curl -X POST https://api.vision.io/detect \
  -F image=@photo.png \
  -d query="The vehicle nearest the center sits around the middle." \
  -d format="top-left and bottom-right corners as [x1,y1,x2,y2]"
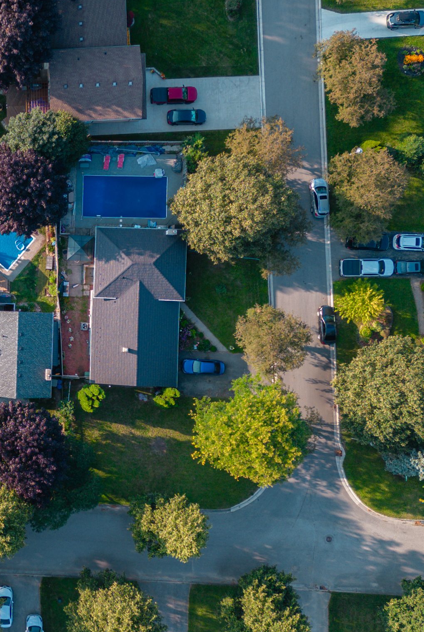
[181,357,225,377]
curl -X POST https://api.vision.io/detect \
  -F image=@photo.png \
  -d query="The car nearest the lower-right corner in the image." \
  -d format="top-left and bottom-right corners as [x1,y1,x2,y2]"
[315,305,338,345]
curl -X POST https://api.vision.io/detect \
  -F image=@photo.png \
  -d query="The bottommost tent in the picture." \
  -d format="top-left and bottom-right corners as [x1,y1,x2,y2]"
[66,235,93,261]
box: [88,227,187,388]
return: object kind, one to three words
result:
house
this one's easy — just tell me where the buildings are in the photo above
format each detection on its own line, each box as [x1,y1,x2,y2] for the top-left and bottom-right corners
[0,306,55,400]
[38,0,144,124]
[88,227,187,388]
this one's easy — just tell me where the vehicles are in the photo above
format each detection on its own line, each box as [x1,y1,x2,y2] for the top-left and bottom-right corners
[181,357,225,377]
[394,257,424,277]
[24,612,45,632]
[148,83,197,106]
[391,232,424,253]
[165,107,206,127]
[338,256,394,278]
[0,584,15,628]
[383,8,424,31]
[344,234,388,252]
[315,305,338,345]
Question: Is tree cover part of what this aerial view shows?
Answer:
Yes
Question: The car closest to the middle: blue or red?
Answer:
blue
